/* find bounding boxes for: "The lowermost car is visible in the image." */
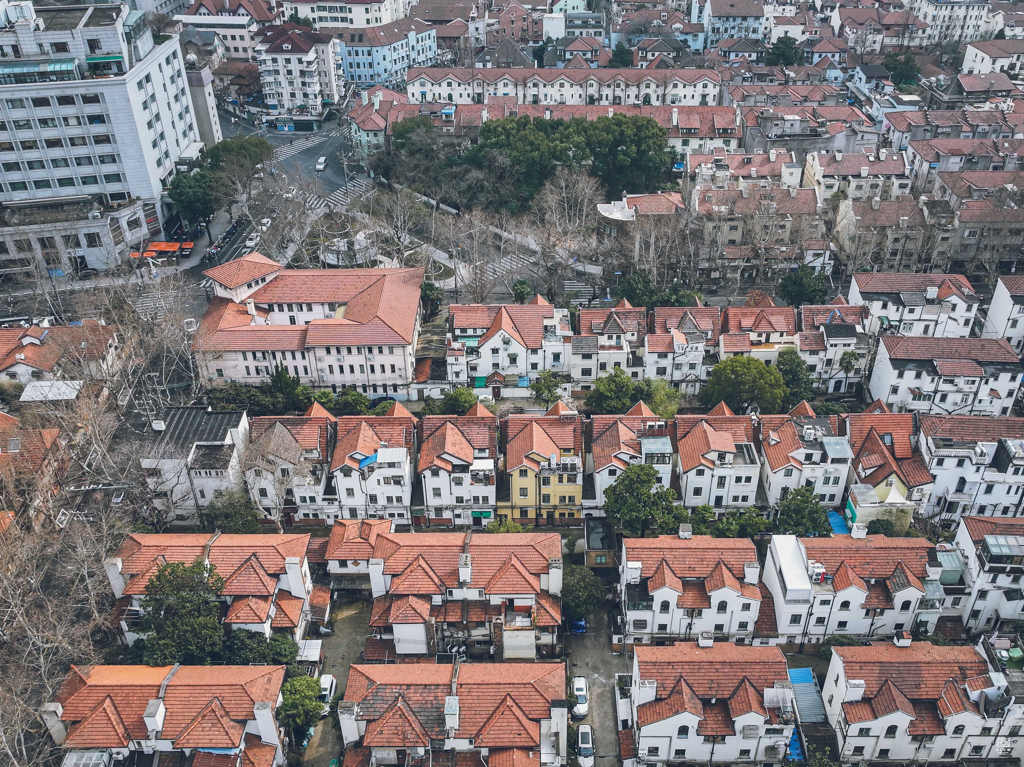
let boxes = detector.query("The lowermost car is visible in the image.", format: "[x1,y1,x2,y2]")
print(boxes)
[575,724,597,767]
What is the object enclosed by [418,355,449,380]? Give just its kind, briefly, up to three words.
shed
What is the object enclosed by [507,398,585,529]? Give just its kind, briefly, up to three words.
house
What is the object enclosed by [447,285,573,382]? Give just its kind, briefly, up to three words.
house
